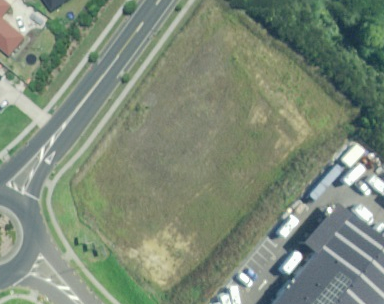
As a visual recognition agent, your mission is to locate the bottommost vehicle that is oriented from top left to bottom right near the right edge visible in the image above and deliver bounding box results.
[352,204,372,223]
